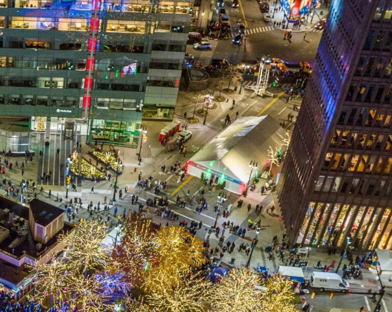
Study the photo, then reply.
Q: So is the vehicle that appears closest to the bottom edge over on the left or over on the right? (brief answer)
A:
right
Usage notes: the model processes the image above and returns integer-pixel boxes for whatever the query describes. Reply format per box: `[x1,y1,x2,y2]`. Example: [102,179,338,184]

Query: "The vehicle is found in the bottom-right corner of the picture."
[311,270,353,295]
